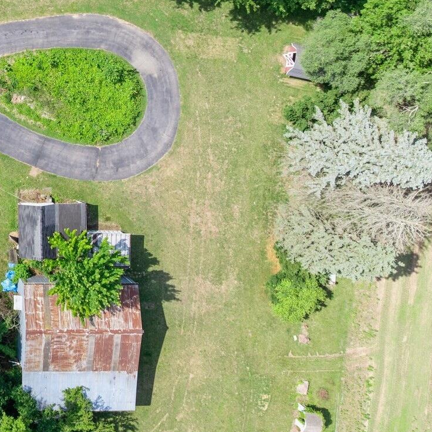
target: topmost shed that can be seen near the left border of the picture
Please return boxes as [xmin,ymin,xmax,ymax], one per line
[16,199,87,260]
